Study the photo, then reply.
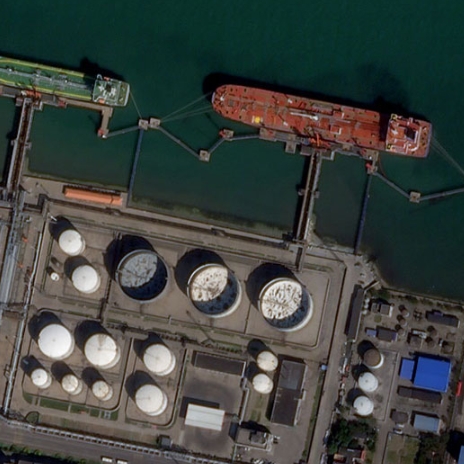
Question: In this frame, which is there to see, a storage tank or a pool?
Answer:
storage tank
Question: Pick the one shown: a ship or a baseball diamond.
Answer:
ship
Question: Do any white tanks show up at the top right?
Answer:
No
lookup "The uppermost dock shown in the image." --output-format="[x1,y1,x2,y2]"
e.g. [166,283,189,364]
[0,86,113,135]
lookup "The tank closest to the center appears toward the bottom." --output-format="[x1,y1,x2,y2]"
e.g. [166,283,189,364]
[187,263,242,317]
